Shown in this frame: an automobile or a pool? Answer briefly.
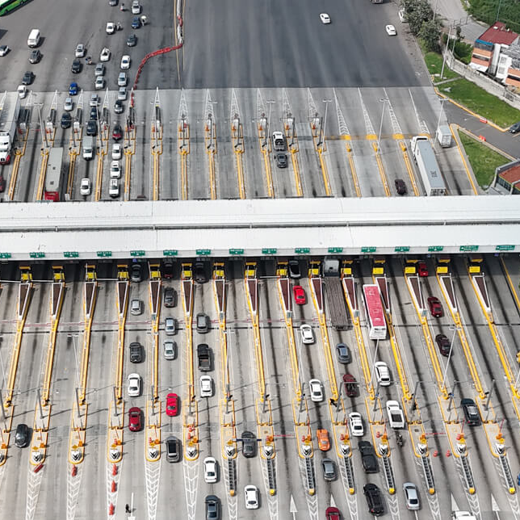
automobile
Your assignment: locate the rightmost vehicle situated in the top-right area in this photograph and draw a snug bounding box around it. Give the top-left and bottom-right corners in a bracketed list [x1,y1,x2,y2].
[506,121,520,134]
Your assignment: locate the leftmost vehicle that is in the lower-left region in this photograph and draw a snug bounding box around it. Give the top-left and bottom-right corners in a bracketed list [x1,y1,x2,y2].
[13,422,30,449]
